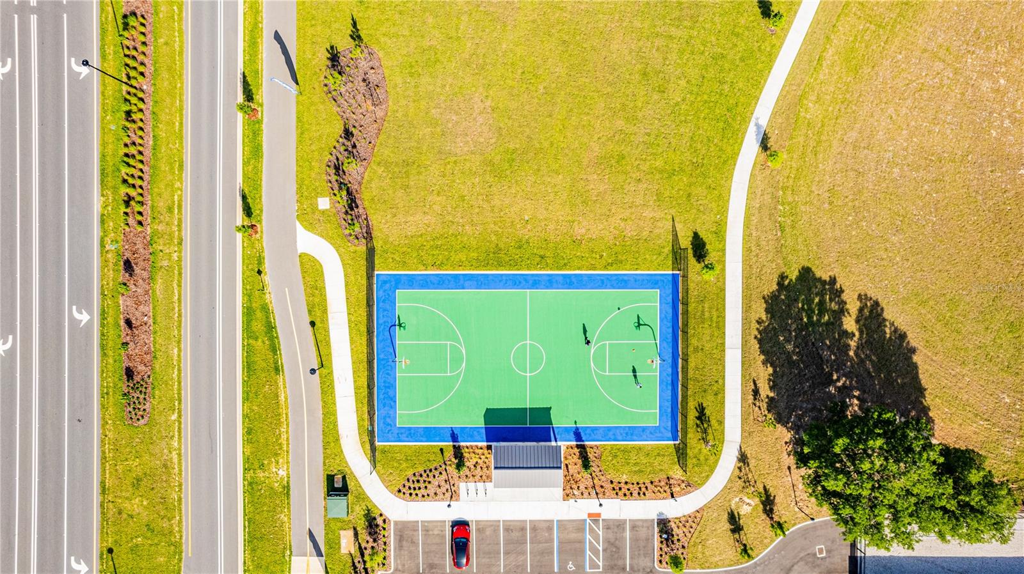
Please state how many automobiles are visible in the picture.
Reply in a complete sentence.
The photo contains exactly 1 automobile.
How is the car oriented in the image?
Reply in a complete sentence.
I'd say the car is aligned from top to bottom in the picture.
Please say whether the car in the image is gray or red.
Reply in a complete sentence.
In this view, the car is red.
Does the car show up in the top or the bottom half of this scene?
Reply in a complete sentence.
Seen from above, the car lies in the bottom half of the view.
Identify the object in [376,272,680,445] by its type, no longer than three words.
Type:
basketball court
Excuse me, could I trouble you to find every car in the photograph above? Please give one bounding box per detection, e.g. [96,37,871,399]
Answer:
[451,524,472,570]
